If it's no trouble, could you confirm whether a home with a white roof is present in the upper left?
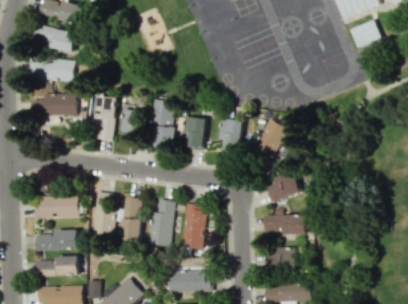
Yes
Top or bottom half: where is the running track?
top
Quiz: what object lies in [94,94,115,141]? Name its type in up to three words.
house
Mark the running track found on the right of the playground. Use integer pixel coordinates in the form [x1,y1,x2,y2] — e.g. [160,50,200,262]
[260,0,359,99]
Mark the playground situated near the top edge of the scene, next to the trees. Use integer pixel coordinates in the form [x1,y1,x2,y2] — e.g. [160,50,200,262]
[140,8,175,52]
